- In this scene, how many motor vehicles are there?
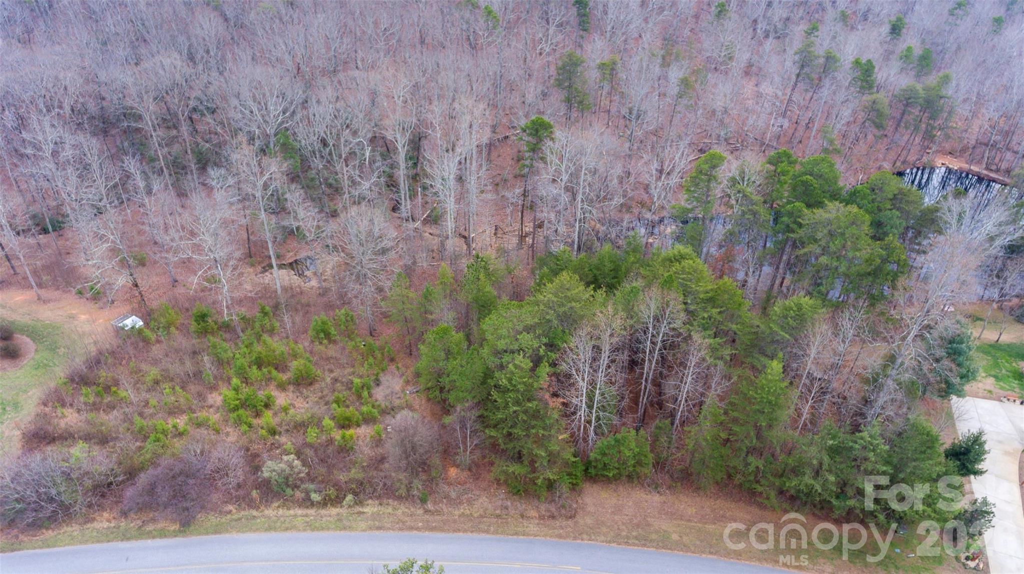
0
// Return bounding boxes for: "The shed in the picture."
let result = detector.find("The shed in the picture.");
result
[114,313,147,337]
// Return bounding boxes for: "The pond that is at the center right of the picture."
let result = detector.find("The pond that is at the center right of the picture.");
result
[626,169,1024,300]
